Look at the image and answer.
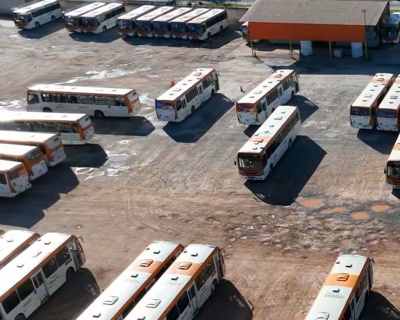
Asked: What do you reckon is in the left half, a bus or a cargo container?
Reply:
bus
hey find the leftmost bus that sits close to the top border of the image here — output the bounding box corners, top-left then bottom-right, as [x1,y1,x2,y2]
[14,0,63,31]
